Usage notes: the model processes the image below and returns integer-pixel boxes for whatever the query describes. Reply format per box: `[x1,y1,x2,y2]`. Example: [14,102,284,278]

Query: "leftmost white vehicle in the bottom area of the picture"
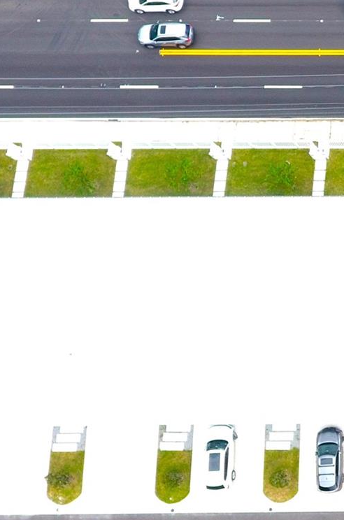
[202,427,236,493]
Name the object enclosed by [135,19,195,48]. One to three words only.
car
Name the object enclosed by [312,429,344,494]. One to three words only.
car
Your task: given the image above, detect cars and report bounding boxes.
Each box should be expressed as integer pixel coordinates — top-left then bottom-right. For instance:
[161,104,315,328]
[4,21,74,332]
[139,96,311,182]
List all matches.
[135,19,195,48]
[312,429,344,494]
[202,427,236,493]
[126,0,185,15]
